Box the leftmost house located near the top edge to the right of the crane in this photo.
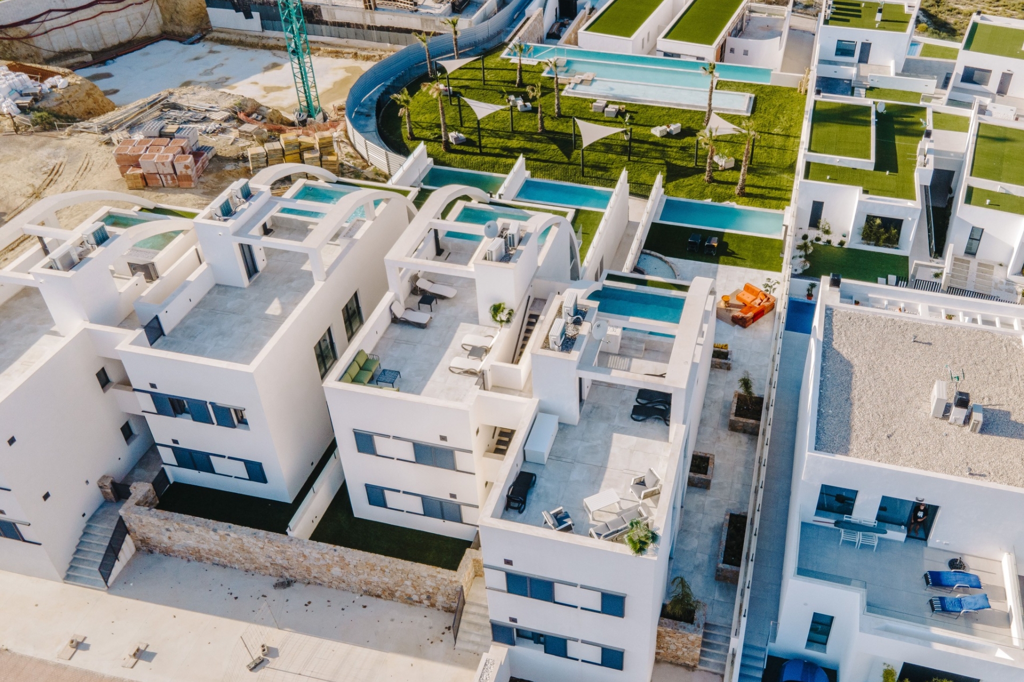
[525,0,588,41]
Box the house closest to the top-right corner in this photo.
[945,10,1024,97]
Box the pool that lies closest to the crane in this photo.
[278,182,368,220]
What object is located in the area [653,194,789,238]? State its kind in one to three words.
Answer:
swimming pool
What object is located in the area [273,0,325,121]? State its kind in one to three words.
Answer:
crane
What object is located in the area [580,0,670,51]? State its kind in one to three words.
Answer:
building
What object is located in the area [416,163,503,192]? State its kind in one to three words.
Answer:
swimming pool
